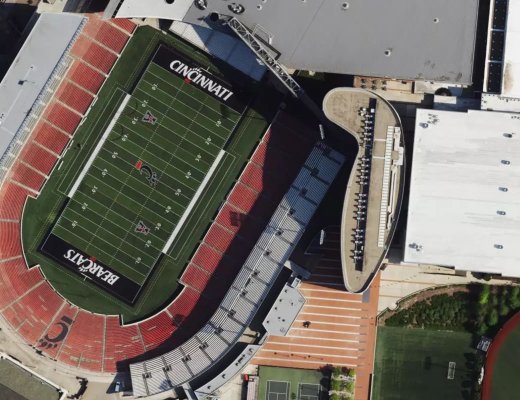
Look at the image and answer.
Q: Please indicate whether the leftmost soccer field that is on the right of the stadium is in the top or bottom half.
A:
bottom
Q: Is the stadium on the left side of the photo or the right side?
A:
left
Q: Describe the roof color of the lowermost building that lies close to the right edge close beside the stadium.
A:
white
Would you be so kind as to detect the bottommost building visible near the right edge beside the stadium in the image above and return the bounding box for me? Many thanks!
[402,109,520,278]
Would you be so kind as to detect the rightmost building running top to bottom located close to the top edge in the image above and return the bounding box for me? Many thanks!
[481,0,520,96]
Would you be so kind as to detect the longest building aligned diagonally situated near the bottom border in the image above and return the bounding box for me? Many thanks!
[194,344,261,395]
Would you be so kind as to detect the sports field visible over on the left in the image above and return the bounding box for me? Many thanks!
[22,26,281,327]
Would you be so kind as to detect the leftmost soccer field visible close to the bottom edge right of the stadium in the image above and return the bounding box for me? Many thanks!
[373,328,484,400]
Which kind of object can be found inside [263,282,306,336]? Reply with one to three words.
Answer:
building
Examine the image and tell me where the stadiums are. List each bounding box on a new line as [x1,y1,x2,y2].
[0,2,347,398]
